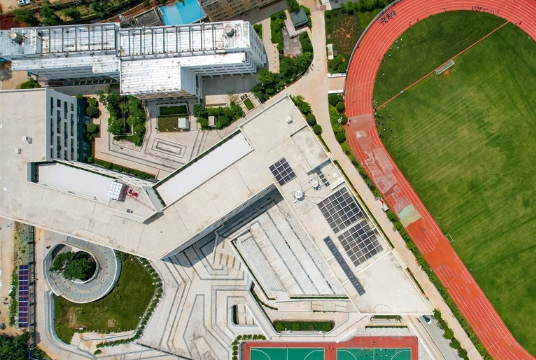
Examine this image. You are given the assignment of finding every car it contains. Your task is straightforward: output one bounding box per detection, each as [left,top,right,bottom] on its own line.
[422,314,432,326]
[17,0,29,5]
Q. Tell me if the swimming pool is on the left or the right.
left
